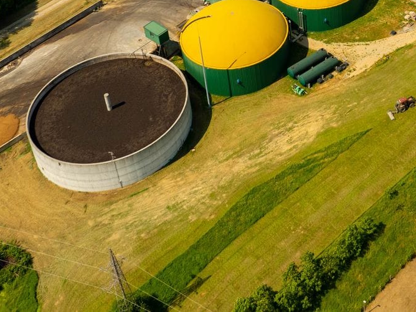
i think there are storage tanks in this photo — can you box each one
[270,0,367,34]
[291,48,328,77]
[25,47,193,192]
[179,0,292,95]
[302,57,338,88]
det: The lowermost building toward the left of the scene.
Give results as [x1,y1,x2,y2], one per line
[132,25,173,56]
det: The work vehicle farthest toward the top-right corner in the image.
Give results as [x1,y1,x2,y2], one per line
[386,92,416,116]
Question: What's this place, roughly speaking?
industrial area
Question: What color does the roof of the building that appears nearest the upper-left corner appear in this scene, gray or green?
green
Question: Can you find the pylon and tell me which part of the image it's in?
bottom left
